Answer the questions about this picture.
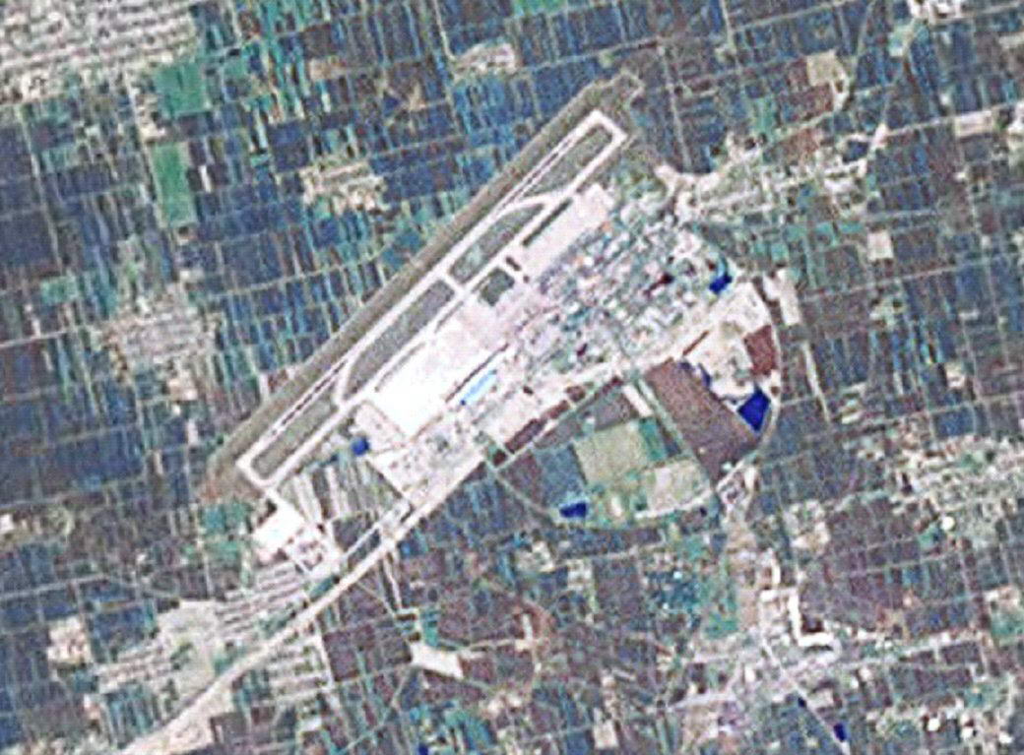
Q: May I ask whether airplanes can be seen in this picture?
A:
No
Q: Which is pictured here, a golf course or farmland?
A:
farmland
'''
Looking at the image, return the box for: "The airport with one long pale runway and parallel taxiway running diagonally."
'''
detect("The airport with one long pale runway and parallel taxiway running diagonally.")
[200,70,643,545]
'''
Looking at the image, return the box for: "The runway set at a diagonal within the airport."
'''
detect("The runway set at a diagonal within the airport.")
[236,112,600,464]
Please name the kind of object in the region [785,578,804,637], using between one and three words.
building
